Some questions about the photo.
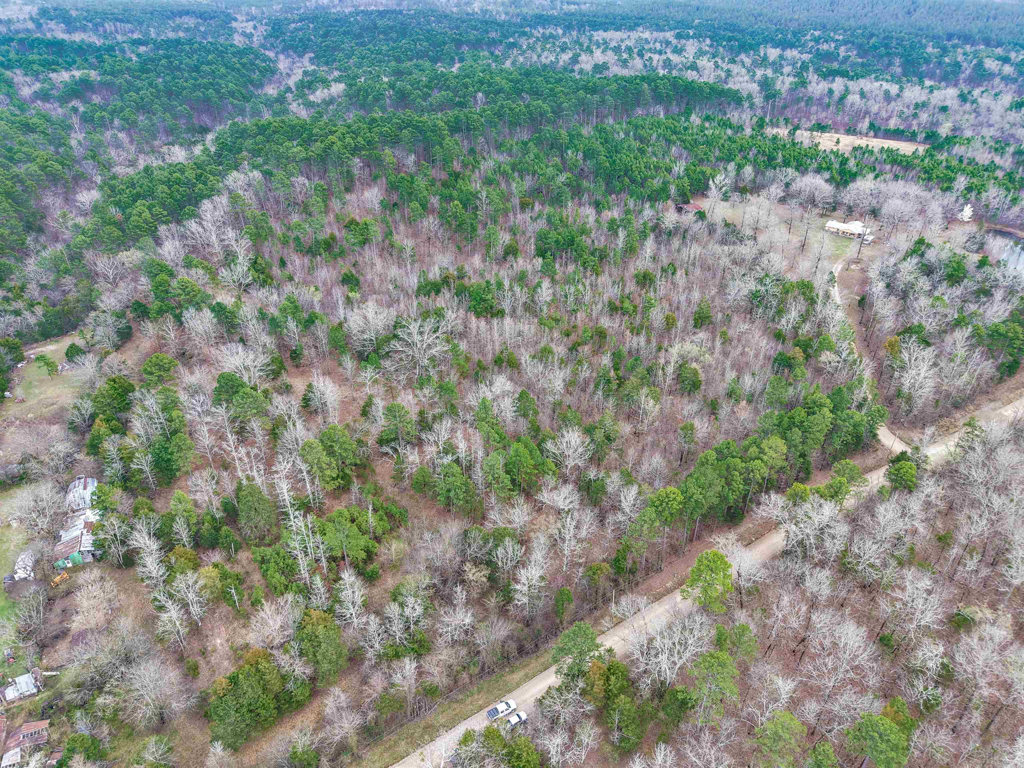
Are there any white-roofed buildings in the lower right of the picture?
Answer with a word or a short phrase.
No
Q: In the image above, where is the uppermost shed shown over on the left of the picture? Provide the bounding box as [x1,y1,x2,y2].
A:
[68,473,103,520]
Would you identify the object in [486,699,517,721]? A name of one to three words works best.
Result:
truck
